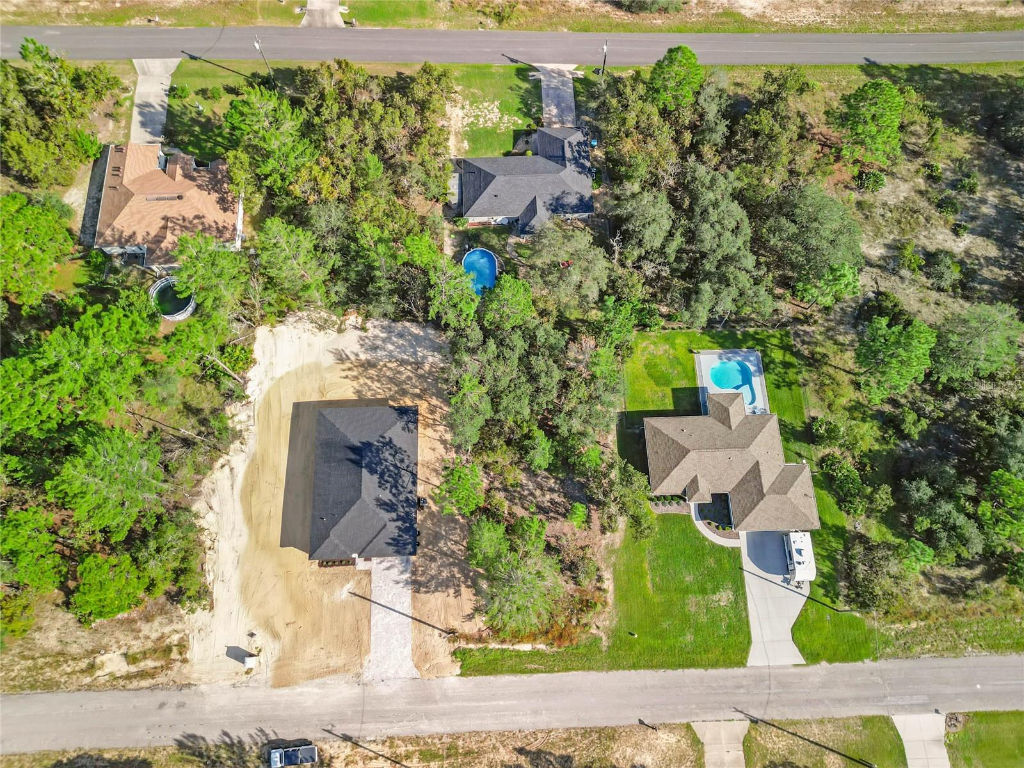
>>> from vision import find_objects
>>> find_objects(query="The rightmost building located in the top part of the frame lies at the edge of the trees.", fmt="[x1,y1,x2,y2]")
[462,127,594,240]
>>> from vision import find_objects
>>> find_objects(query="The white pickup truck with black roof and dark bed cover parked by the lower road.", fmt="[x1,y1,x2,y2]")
[267,745,318,768]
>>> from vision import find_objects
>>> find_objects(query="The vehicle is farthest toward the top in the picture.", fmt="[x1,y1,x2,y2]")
[782,533,814,591]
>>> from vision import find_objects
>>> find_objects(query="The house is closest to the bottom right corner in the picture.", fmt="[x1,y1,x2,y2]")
[644,393,817,531]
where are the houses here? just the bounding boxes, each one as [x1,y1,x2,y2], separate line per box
[95,137,242,270]
[644,393,817,531]
[310,406,418,560]
[462,127,594,240]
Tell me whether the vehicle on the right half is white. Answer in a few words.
Yes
